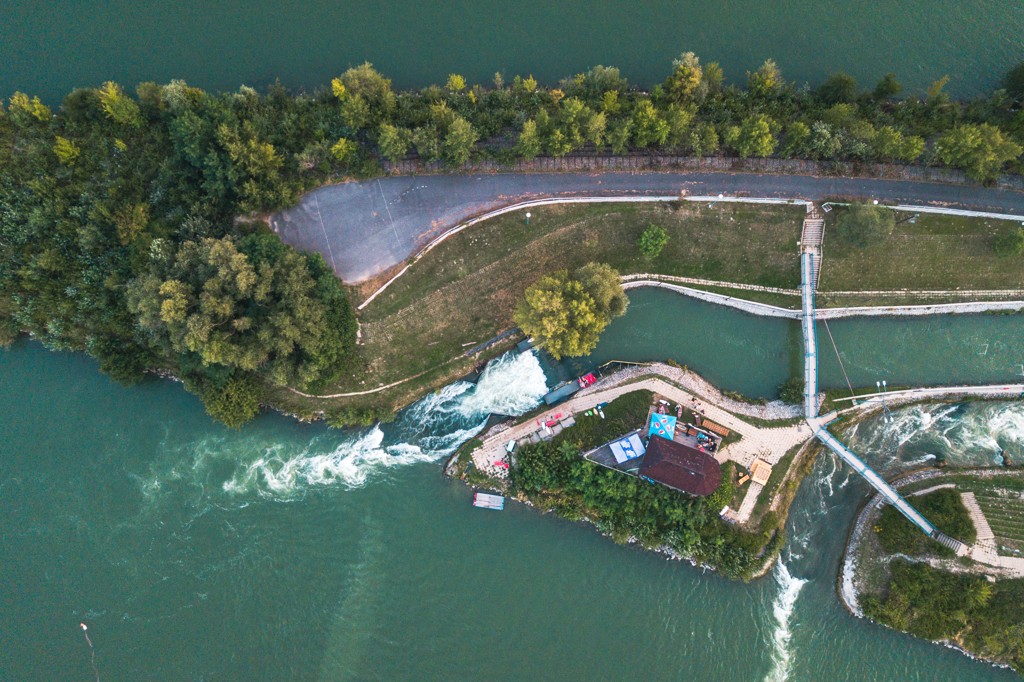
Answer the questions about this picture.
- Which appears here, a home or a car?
home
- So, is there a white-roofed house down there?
No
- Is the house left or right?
right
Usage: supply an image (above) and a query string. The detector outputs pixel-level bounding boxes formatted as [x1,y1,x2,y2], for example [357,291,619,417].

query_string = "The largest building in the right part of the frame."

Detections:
[638,435,722,495]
